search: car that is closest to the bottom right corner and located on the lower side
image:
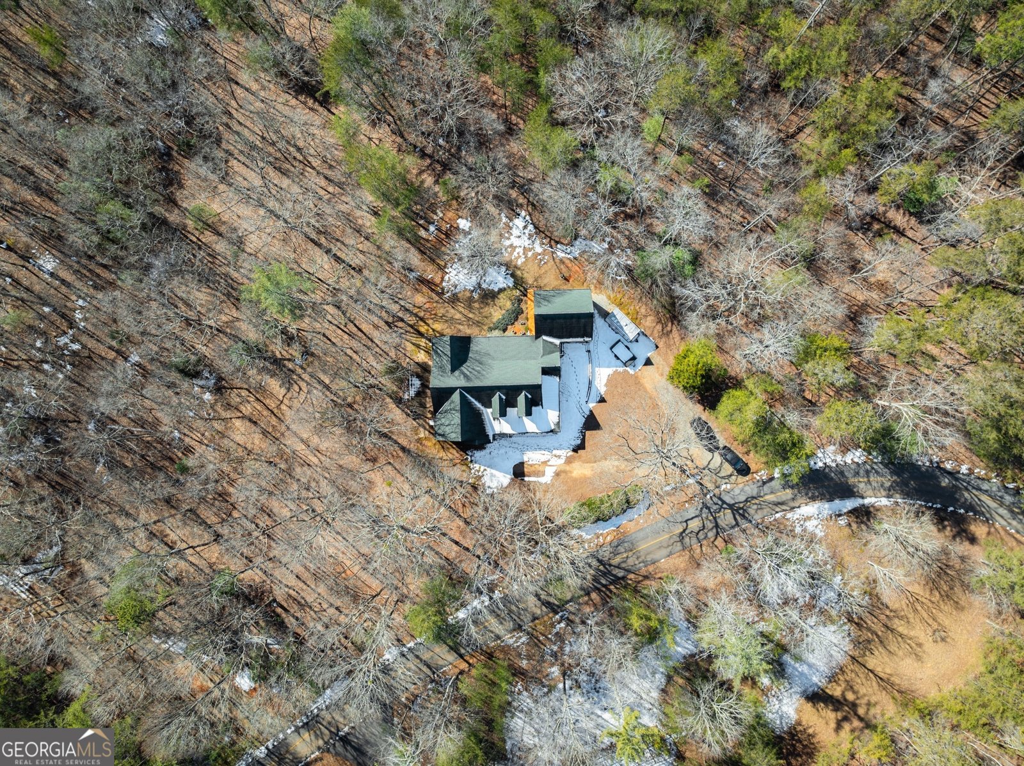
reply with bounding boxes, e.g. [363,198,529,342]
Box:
[721,445,752,479]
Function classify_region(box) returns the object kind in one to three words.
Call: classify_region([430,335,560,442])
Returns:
house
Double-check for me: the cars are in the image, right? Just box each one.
[692,418,721,454]
[721,445,752,479]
